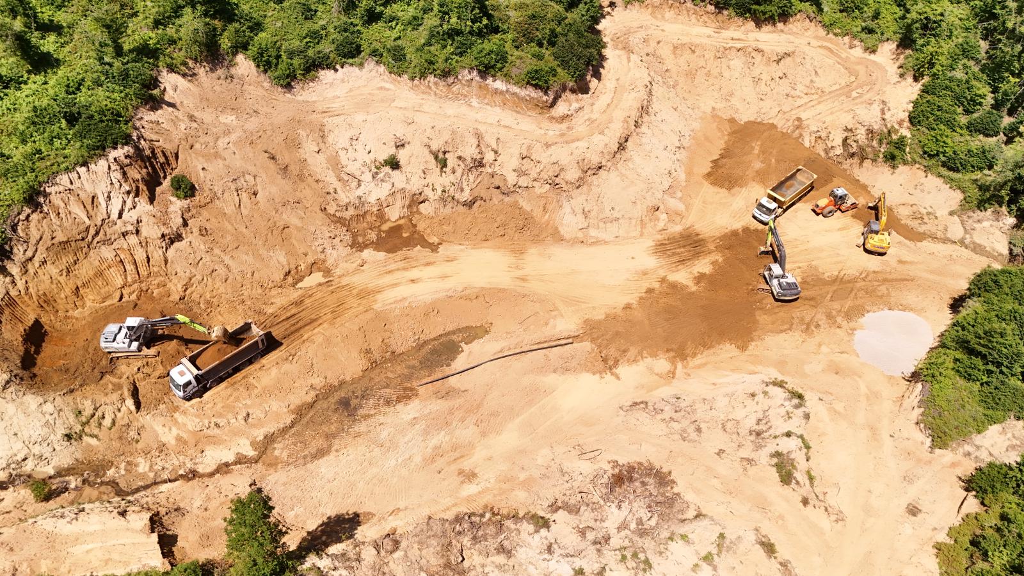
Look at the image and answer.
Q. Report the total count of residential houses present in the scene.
0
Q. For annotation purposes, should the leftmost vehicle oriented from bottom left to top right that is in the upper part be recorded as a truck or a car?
truck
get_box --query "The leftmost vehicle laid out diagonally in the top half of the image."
[751,170,817,227]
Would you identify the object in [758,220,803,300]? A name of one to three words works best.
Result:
work vehicle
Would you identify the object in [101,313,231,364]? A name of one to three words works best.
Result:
work vehicle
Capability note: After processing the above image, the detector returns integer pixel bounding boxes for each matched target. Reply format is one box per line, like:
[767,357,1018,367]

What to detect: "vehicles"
[163,317,273,408]
[101,313,231,364]
[813,189,859,223]
[758,220,803,300]
[751,170,817,227]
[852,192,889,258]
